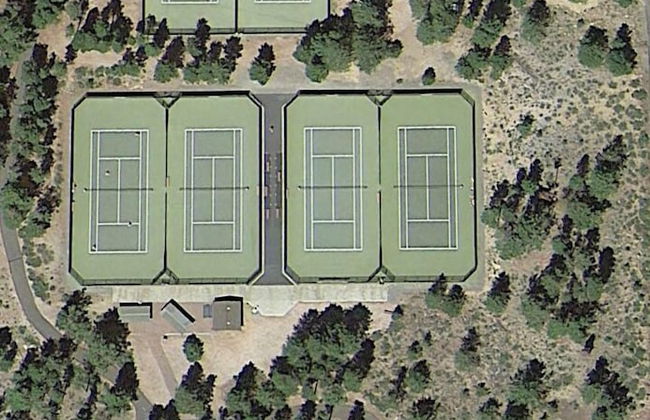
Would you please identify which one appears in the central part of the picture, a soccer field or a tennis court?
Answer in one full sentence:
Looking in the central part of the picture, you will find a tennis court.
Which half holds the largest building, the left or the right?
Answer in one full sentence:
You can find the largest building on the left side of the picture.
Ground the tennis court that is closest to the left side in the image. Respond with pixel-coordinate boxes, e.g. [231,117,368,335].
[70,96,165,285]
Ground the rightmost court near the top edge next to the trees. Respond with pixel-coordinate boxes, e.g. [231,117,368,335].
[235,0,328,34]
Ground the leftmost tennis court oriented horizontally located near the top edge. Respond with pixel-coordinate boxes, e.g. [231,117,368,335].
[143,0,235,34]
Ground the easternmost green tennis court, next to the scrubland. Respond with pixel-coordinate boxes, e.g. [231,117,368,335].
[378,93,475,282]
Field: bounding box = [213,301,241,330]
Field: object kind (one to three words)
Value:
building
